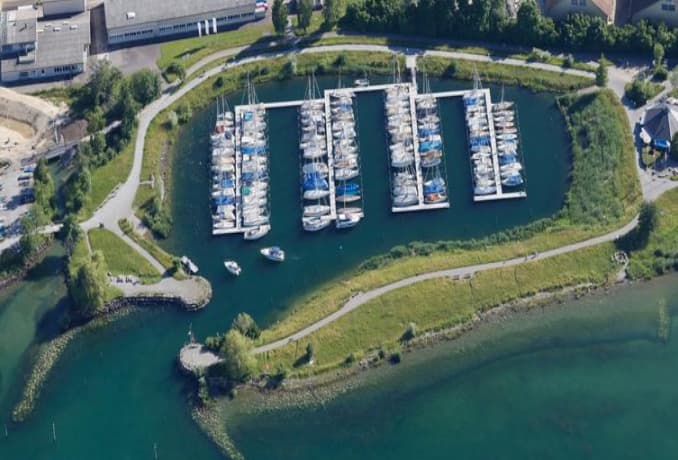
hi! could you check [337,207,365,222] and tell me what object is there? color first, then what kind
white boat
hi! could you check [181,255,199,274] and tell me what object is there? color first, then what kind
white boat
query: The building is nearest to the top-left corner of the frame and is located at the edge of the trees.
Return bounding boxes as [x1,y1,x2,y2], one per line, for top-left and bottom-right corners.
[0,0,87,82]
